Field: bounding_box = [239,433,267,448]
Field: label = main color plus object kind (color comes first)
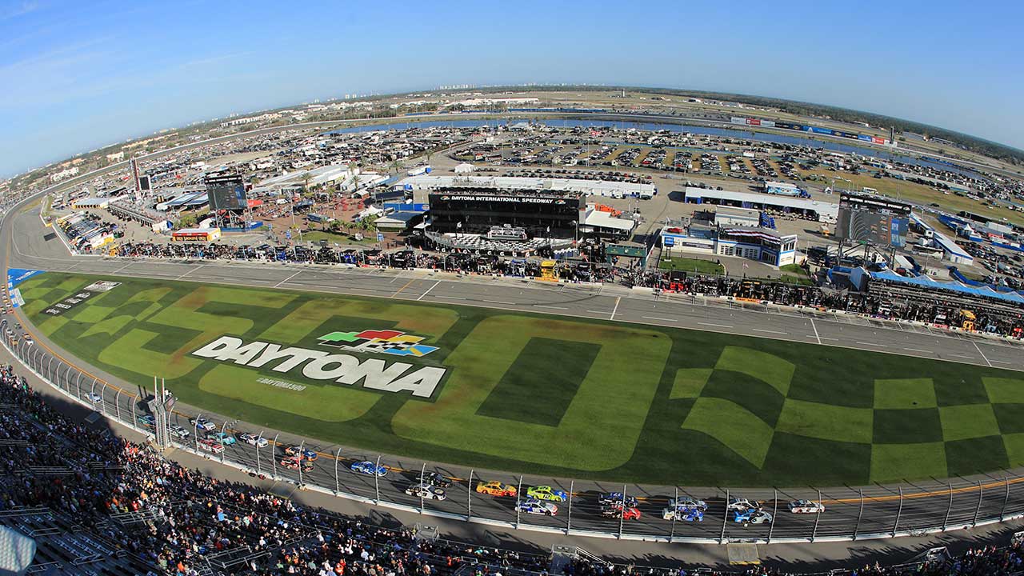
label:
white car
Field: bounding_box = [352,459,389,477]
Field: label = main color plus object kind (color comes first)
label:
blue car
